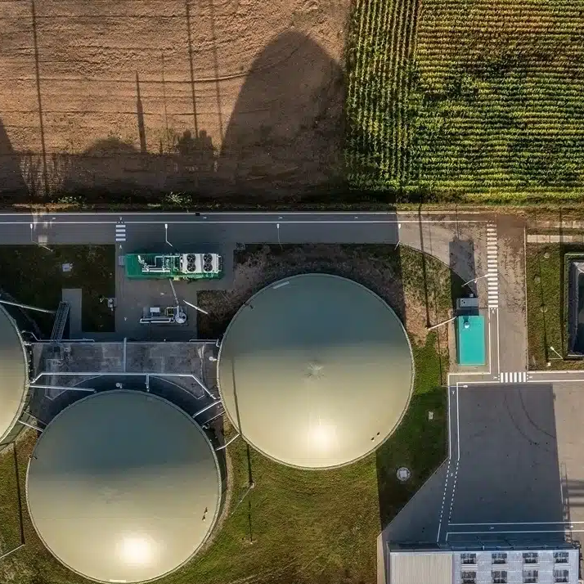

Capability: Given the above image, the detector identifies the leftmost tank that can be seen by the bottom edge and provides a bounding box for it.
[27,390,224,584]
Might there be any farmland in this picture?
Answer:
Yes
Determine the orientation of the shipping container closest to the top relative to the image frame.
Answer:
horizontally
